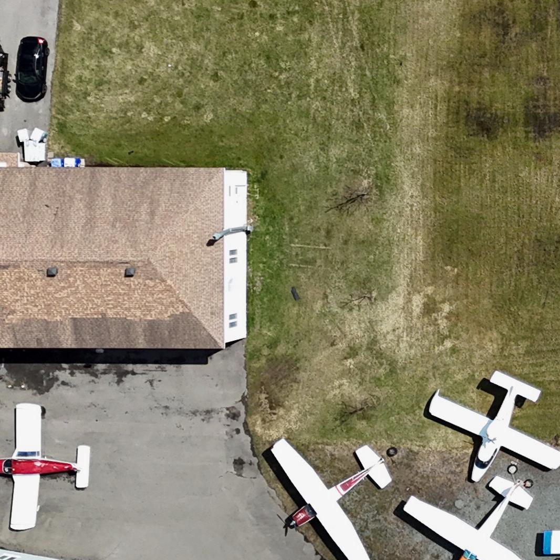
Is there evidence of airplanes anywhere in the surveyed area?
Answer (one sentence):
Yes, the image includes an airplane.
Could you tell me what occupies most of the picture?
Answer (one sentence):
Most of the picture is covered by grass.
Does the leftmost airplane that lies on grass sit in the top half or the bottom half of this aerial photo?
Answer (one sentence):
The leftmost airplane that lies on grass is in the bottom half of the image.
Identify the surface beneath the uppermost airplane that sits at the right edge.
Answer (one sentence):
In this view, the uppermost airplane that sits at the right edge is located on the grass.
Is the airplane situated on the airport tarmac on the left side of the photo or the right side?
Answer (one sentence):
You can find the airplane situated on the airport tarmac on the left side of the picture.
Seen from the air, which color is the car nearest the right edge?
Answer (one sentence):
The car nearest the right edge is black.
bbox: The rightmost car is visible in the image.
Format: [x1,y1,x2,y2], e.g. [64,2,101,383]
[13,36,49,99]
